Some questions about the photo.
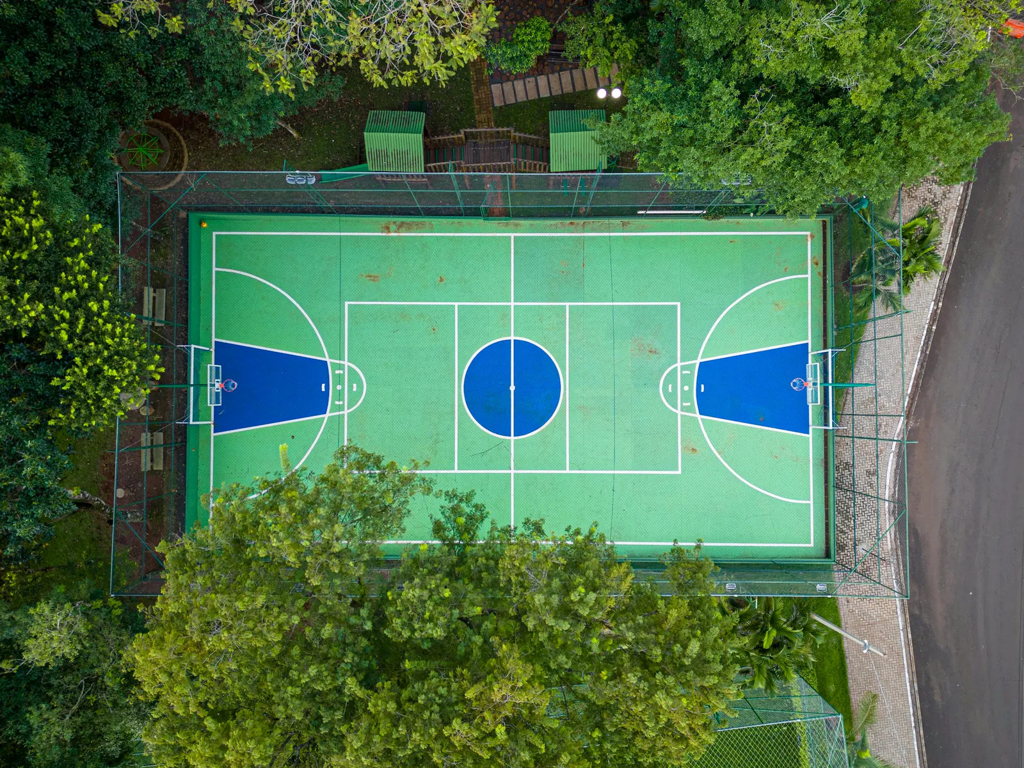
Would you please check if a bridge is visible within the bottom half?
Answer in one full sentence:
No, there's no bridge to be seen within the bottom half.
